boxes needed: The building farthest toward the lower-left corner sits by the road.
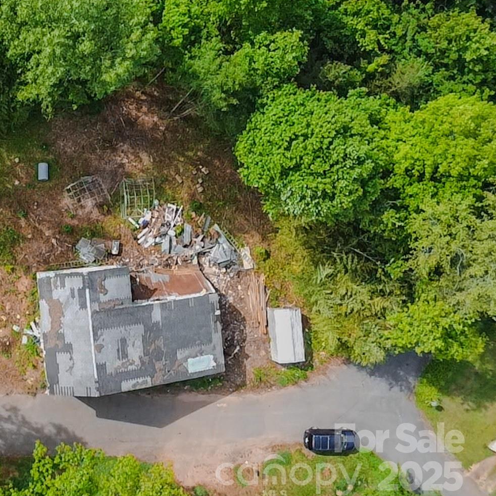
[34,263,225,397]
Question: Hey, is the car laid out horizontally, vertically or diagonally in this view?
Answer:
horizontally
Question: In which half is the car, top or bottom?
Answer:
bottom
